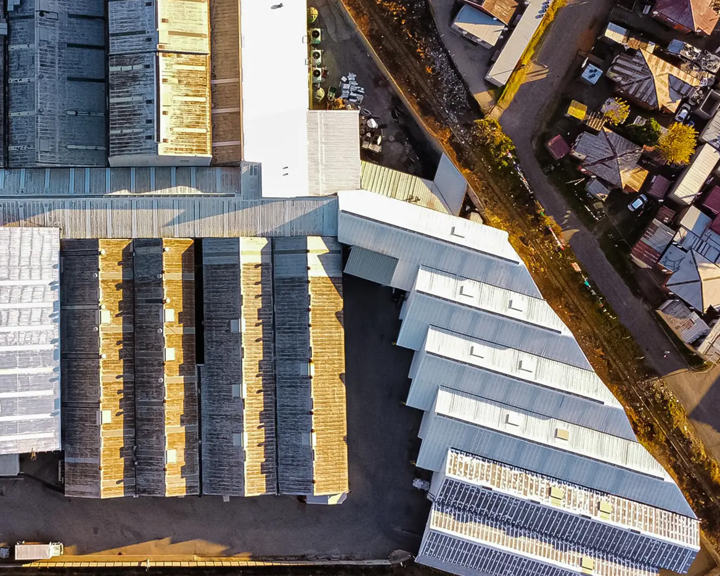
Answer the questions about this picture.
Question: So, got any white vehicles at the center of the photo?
No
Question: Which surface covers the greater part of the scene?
buildings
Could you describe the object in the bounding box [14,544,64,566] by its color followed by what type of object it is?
white truck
